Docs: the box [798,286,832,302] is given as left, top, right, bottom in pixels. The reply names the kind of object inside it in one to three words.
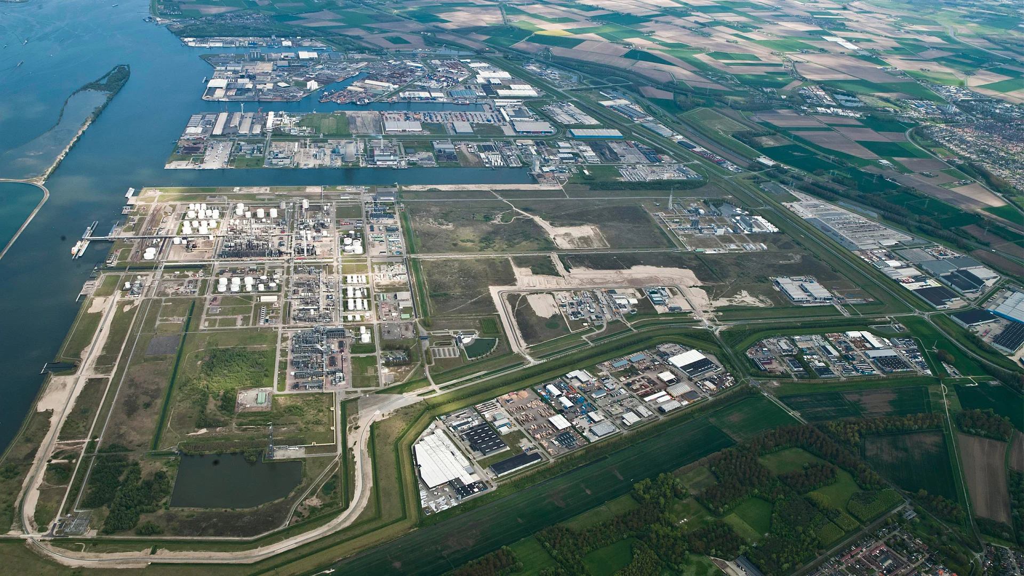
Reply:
building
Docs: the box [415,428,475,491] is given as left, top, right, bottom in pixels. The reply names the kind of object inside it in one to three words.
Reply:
building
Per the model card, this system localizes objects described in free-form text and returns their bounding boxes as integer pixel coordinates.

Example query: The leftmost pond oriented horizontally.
[170,452,301,507]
